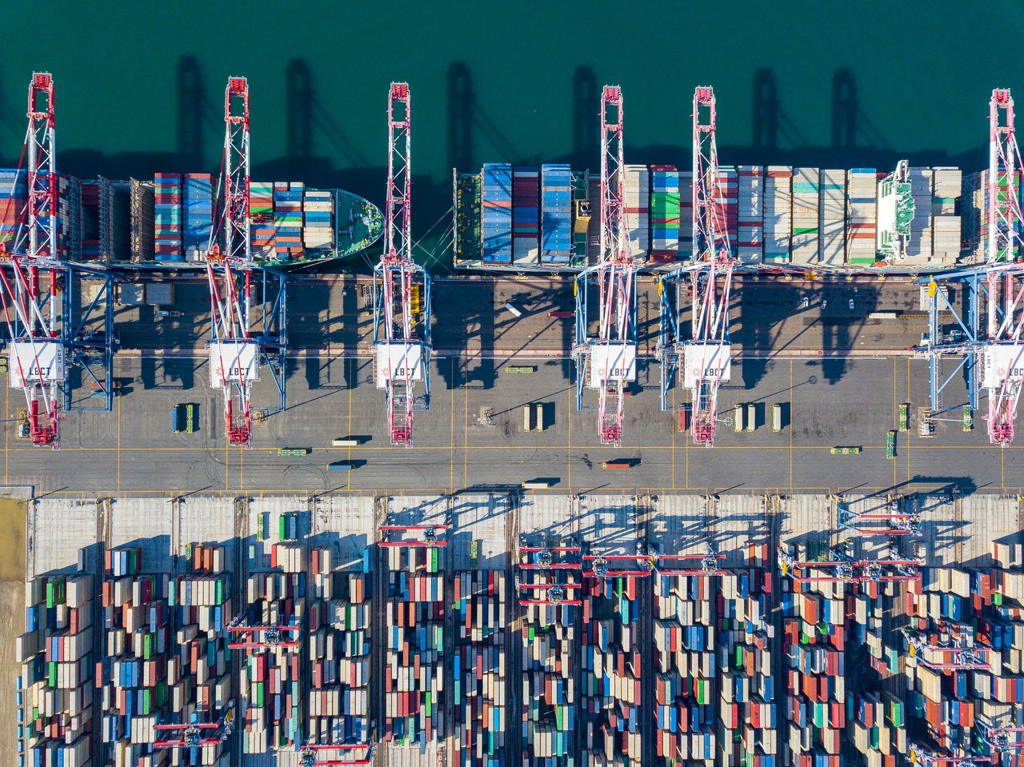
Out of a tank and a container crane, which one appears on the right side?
container crane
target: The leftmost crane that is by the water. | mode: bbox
[0,70,136,453]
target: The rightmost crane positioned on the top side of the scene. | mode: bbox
[903,84,1024,450]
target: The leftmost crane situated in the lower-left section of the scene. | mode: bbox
[157,699,239,748]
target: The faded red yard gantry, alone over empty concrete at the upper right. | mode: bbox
[838,501,924,536]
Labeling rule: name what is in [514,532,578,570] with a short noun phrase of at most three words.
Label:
container crane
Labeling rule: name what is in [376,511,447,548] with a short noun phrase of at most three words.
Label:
container crane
